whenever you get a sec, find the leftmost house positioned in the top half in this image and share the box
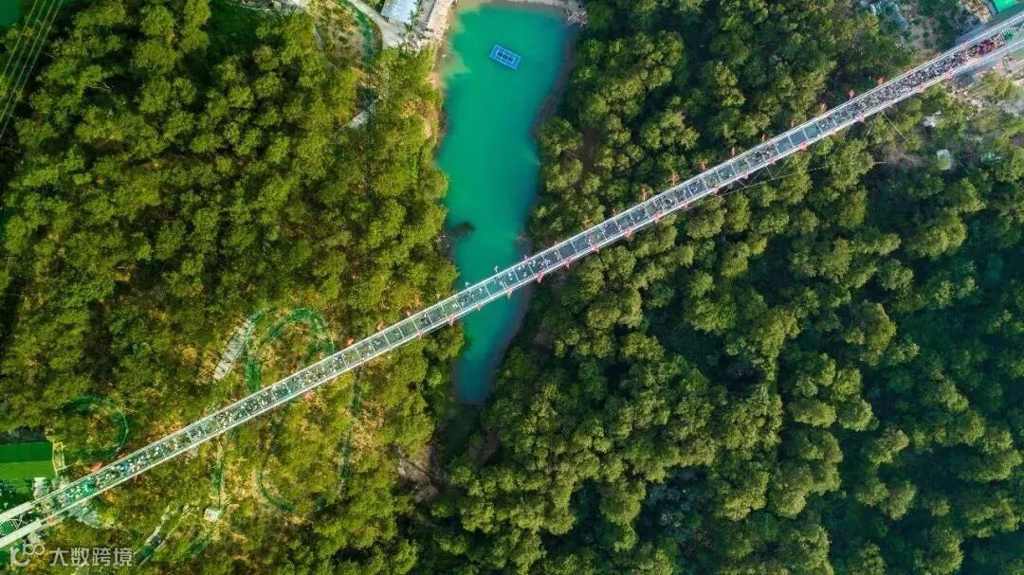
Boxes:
[382,0,421,34]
